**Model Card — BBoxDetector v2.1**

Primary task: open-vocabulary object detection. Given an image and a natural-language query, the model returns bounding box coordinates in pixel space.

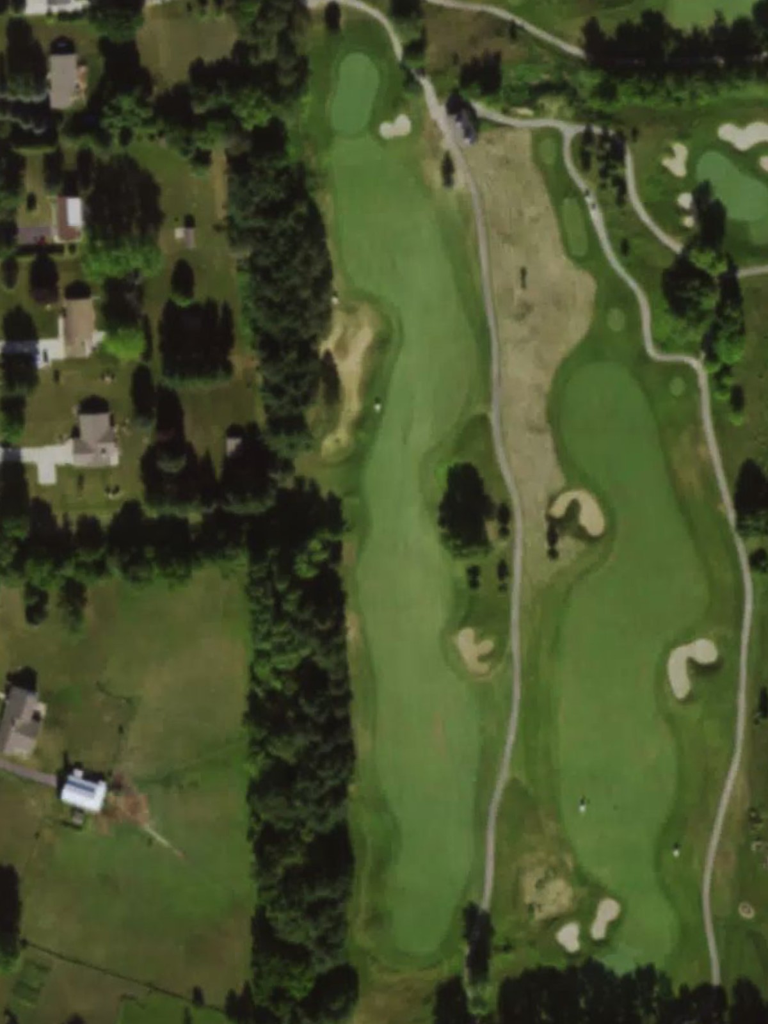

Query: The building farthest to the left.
[0,689,50,759]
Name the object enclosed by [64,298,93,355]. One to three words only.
house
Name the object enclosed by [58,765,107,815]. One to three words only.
barn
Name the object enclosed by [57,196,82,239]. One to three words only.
house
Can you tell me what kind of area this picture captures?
golf course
